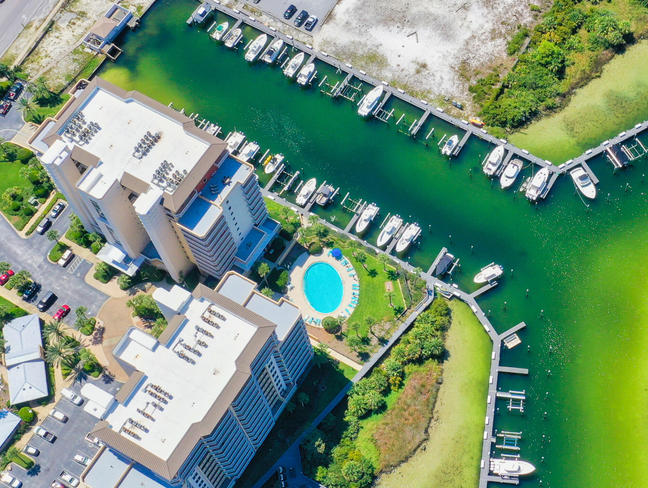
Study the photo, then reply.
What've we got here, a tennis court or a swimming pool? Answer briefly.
swimming pool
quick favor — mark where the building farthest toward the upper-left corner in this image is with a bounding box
[83,4,133,55]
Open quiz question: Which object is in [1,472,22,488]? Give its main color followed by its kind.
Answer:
white car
